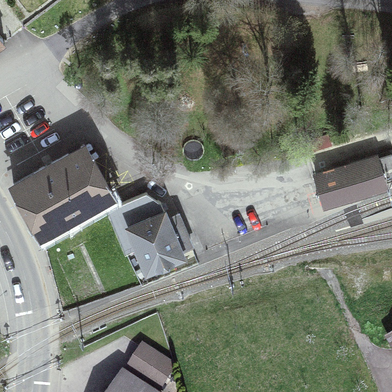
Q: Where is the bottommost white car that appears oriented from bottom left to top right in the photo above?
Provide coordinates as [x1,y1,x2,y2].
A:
[0,120,22,138]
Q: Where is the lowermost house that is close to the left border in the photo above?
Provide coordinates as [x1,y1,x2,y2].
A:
[9,142,122,252]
